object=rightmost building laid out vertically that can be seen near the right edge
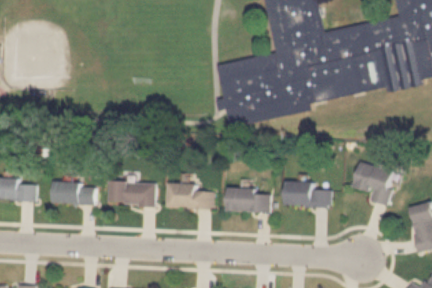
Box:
[408,200,432,256]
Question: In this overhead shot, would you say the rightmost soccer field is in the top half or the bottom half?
top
